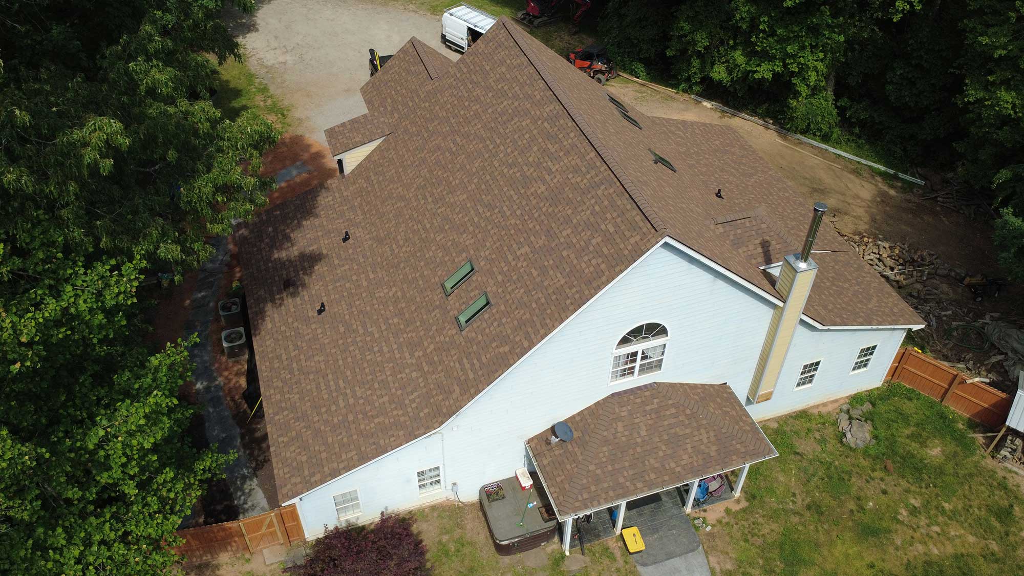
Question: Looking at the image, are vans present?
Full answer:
Yes, there is a van in the image.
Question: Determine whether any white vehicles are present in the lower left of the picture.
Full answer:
No, I can find no white vehicle in the lower left of the picture.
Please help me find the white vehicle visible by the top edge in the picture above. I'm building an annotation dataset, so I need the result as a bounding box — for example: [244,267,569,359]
[440,2,498,50]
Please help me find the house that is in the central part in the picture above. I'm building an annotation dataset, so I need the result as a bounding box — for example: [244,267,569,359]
[235,16,925,555]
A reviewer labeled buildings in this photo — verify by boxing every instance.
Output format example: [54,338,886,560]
[235,16,925,555]
[987,375,1024,455]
